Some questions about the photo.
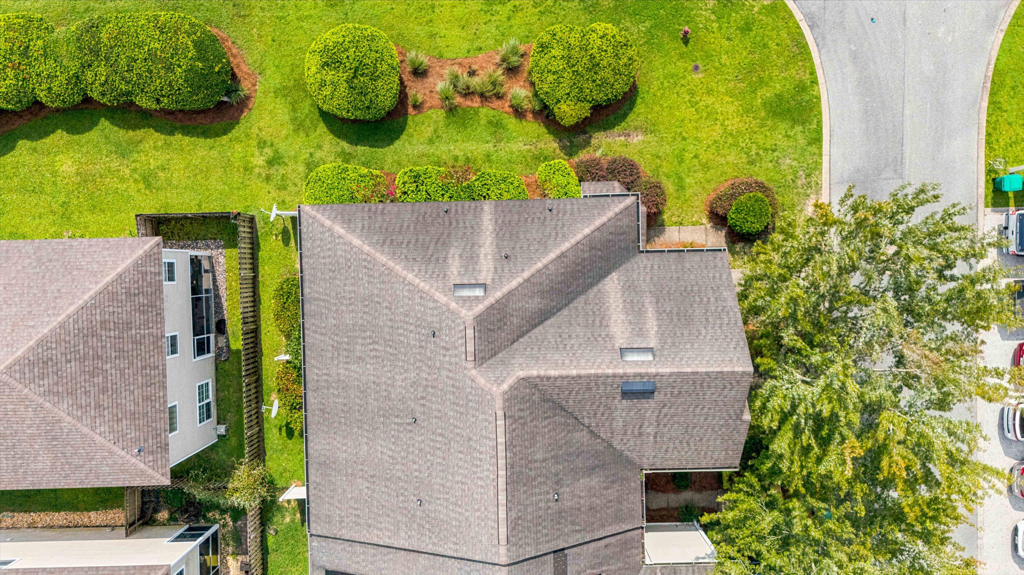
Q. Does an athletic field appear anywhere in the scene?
No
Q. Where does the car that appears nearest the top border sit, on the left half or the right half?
right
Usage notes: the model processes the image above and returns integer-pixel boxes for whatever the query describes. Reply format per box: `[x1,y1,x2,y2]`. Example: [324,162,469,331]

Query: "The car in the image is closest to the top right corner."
[1003,214,1024,255]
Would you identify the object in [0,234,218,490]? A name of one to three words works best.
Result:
house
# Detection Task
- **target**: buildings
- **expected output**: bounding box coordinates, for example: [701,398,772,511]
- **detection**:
[296,181,773,575]
[0,234,218,490]
[0,524,222,575]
